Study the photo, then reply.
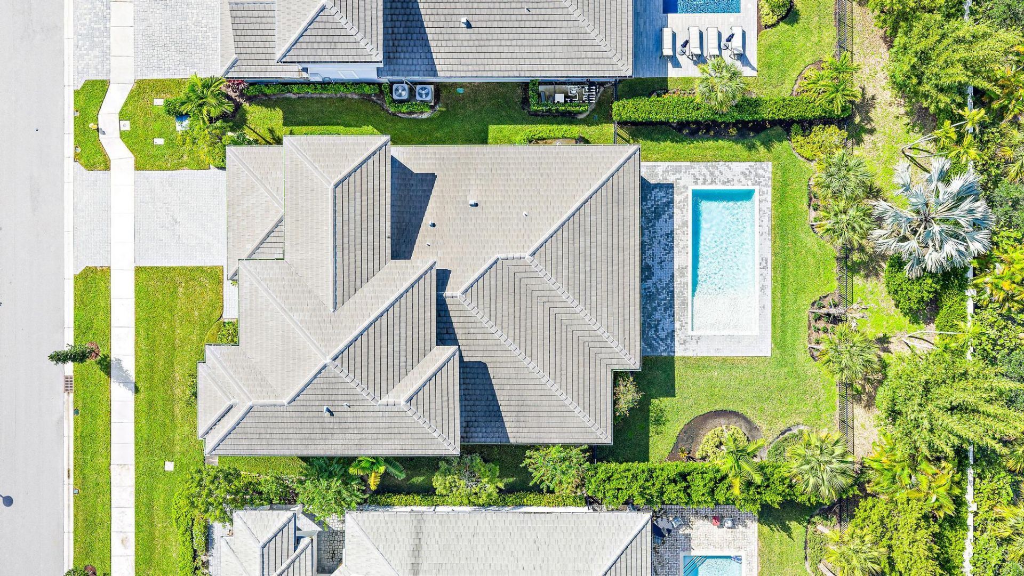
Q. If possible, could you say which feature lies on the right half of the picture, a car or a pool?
pool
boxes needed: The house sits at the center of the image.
[196,133,643,457]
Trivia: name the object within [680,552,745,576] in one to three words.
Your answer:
swimming pool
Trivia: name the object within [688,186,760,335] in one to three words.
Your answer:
swimming pool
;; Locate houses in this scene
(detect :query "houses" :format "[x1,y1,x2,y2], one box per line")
[196,133,643,457]
[218,0,635,84]
[219,504,654,576]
